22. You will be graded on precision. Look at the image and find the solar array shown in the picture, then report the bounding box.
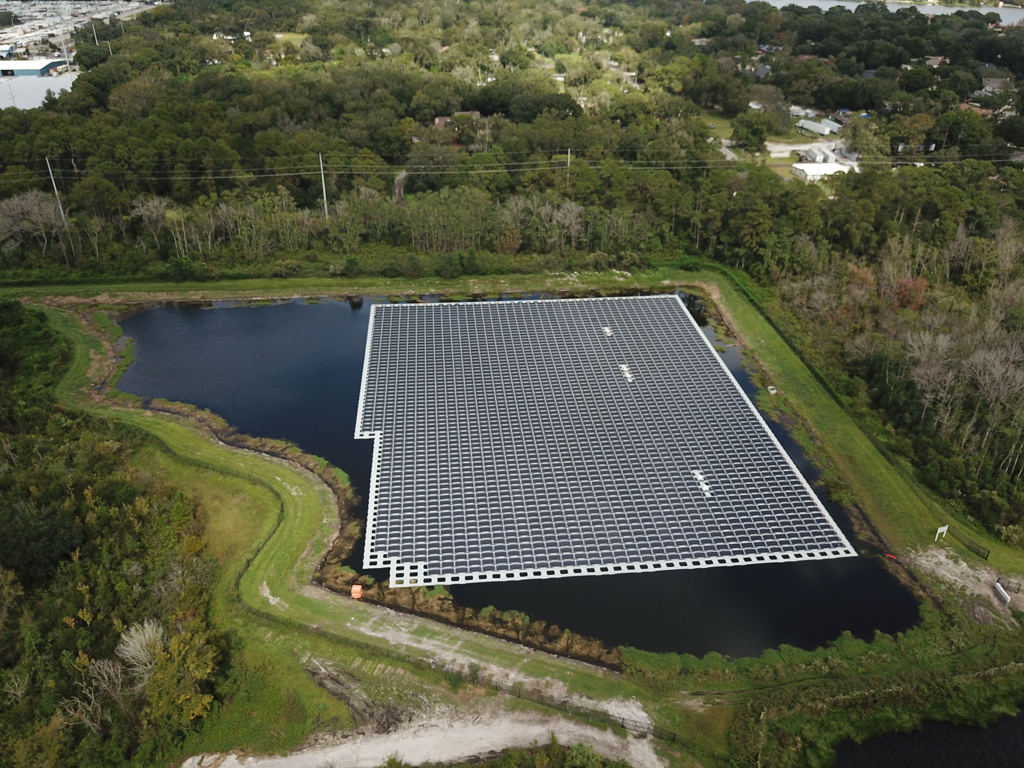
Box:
[353,294,858,588]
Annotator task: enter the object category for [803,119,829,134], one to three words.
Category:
vehicle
